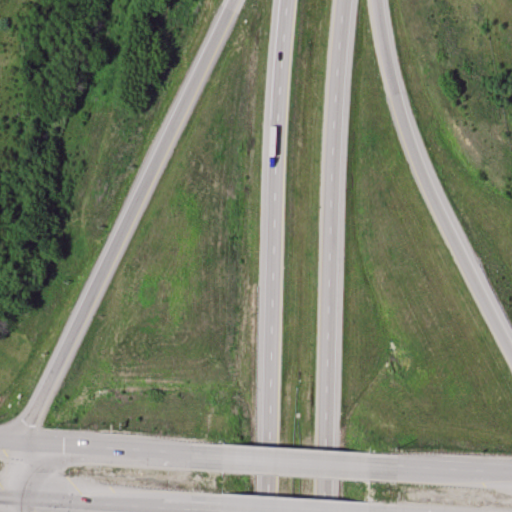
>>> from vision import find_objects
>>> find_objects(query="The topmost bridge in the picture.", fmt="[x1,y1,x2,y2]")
[217,444,370,481]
